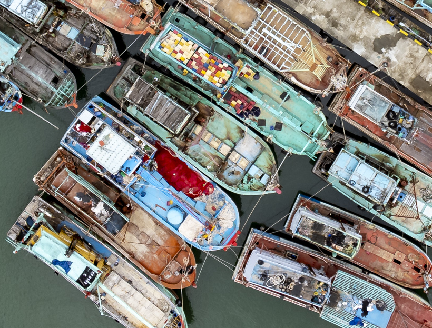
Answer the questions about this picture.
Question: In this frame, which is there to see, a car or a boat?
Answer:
boat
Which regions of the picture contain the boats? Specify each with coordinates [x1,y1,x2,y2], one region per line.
[231,229,432,328]
[328,63,432,177]
[73,0,164,35]
[174,0,352,94]
[5,197,188,328]
[0,15,80,113]
[313,134,432,247]
[0,0,119,70]
[141,5,332,160]
[283,194,432,289]
[0,69,59,129]
[106,57,281,195]
[34,146,198,289]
